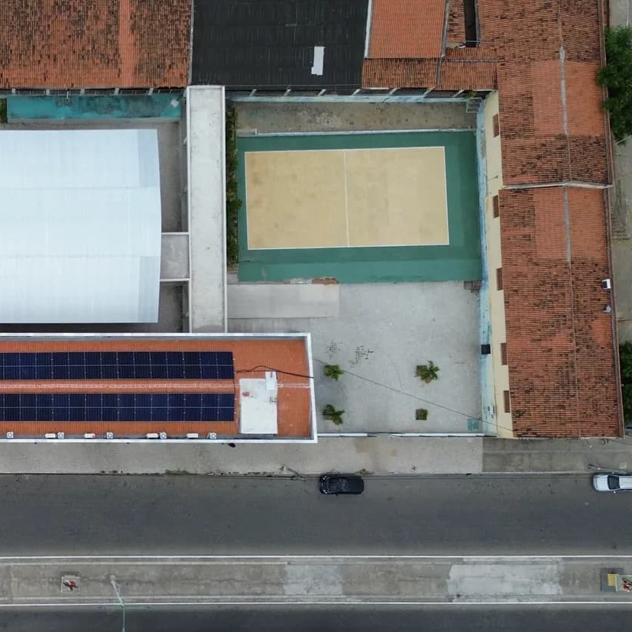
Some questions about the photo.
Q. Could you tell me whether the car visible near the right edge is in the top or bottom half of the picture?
bottom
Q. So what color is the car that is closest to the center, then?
black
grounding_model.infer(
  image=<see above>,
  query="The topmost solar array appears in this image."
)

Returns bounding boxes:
[0,351,238,380]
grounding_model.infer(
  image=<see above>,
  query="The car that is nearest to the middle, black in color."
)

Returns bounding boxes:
[320,473,368,497]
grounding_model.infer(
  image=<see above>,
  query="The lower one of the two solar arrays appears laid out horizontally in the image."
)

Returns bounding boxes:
[0,393,239,422]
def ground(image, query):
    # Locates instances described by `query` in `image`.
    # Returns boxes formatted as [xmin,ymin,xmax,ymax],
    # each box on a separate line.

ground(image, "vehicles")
[594,472,632,497]
[320,473,368,497]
